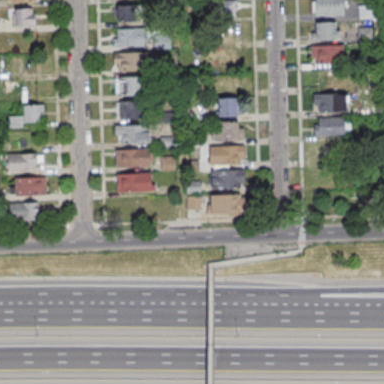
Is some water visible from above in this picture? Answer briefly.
No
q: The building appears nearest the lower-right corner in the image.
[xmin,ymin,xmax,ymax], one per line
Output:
[210,193,244,218]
